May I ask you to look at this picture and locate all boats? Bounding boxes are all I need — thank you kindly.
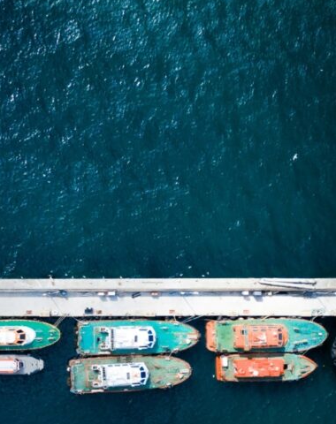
[75,318,201,355]
[0,352,44,378]
[205,317,328,352]
[214,352,318,382]
[66,354,193,394]
[0,318,61,352]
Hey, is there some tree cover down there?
No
